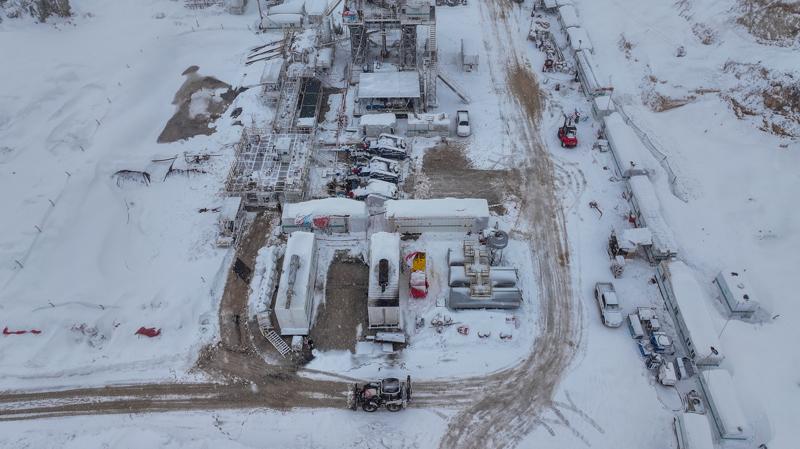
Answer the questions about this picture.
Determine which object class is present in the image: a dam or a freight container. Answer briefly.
freight container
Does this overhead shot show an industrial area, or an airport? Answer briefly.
industrial area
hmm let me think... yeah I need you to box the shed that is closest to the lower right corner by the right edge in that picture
[709,269,761,322]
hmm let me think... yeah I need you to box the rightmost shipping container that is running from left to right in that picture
[390,198,494,233]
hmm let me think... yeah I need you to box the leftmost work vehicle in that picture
[343,372,410,409]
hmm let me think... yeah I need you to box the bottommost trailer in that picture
[659,408,718,449]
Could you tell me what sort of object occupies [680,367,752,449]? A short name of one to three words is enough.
trailer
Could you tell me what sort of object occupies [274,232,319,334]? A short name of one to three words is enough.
shipping container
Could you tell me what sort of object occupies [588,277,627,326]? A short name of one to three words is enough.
truck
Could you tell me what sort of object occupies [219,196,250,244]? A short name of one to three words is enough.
shed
